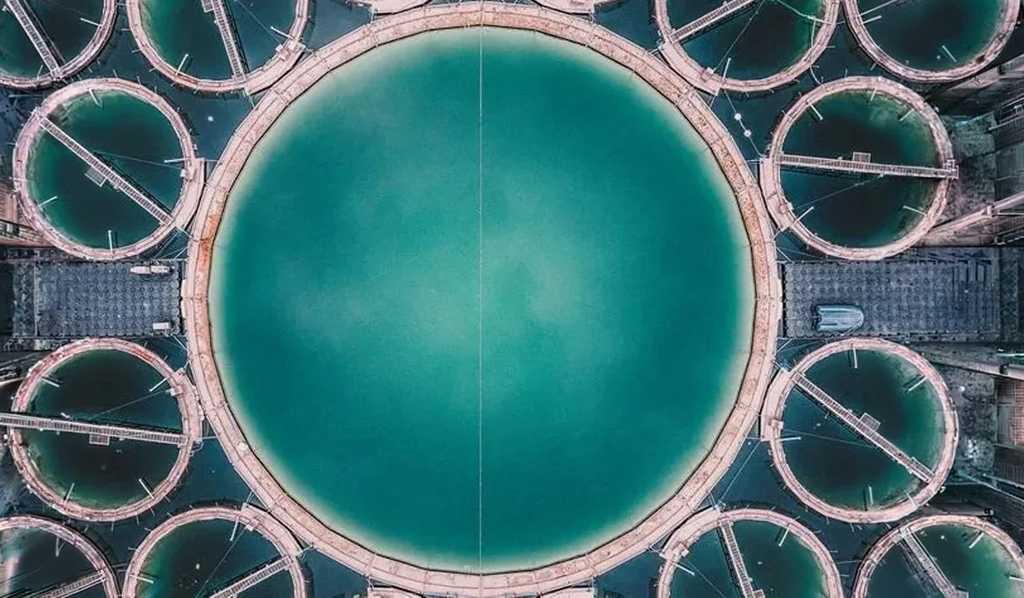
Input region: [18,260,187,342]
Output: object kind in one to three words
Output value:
pier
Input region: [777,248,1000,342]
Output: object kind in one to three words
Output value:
pier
